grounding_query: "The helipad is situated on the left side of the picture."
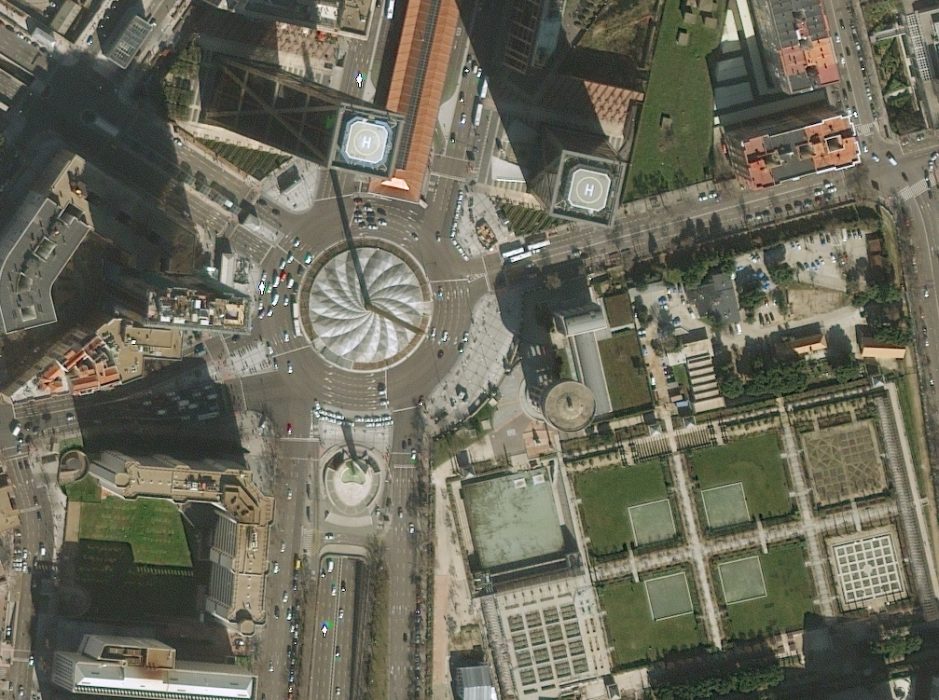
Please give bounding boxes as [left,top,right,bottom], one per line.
[343,116,390,162]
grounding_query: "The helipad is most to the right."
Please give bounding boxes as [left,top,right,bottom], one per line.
[567,163,613,211]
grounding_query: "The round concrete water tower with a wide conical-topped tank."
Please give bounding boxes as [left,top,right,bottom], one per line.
[517,367,596,432]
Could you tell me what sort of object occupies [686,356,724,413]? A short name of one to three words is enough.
shed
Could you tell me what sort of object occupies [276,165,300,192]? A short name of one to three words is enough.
building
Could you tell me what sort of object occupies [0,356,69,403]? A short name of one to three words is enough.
house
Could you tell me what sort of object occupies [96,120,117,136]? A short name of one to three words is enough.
vehicle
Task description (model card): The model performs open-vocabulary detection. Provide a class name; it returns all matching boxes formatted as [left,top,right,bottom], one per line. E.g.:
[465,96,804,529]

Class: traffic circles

[298,236,435,372]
